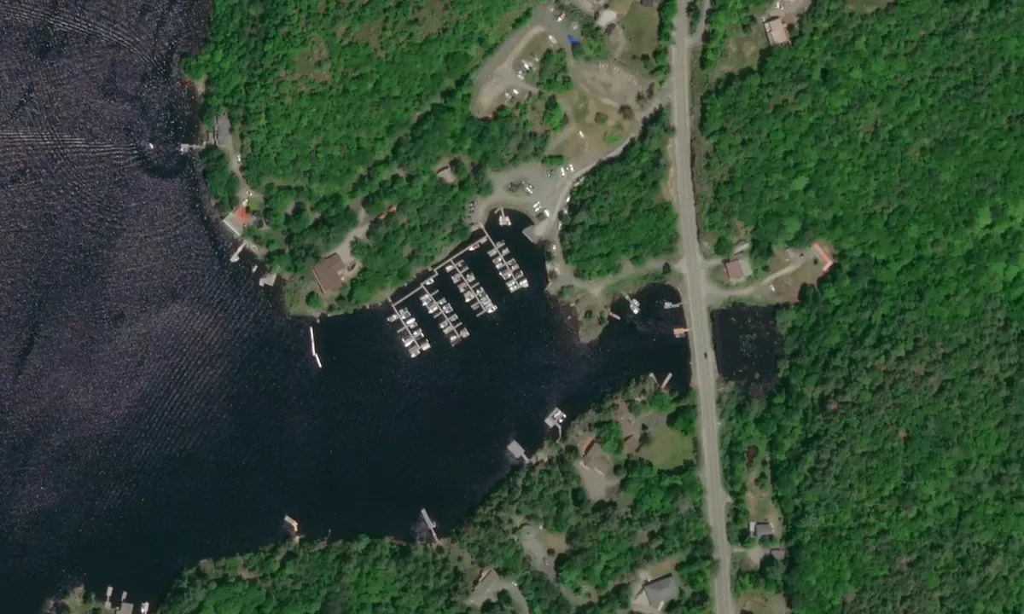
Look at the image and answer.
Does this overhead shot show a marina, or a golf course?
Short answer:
marina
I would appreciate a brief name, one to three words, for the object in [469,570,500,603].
house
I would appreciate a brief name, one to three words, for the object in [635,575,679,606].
house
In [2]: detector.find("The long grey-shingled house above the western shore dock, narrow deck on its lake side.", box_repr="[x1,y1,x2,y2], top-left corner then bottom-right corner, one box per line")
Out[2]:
[208,115,233,144]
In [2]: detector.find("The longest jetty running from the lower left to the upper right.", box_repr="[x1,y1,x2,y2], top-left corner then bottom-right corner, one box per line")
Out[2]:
[388,235,488,307]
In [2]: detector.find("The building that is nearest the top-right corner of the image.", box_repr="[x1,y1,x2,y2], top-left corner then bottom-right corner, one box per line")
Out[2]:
[764,19,786,46]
